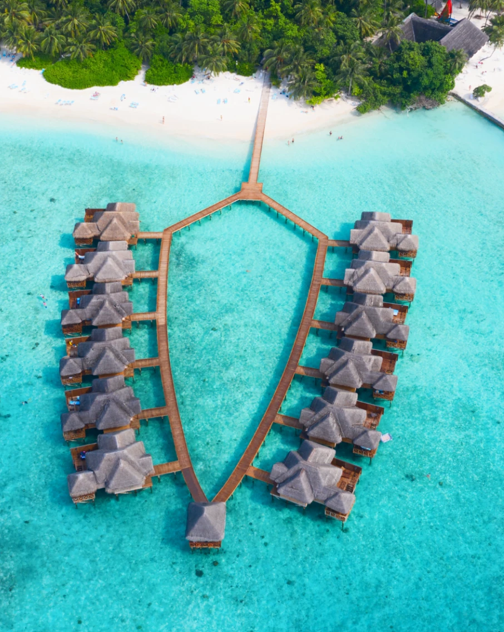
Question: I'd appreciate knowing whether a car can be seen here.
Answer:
No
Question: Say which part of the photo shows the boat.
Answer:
top right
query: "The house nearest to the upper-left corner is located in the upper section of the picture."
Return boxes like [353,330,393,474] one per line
[72,201,141,257]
